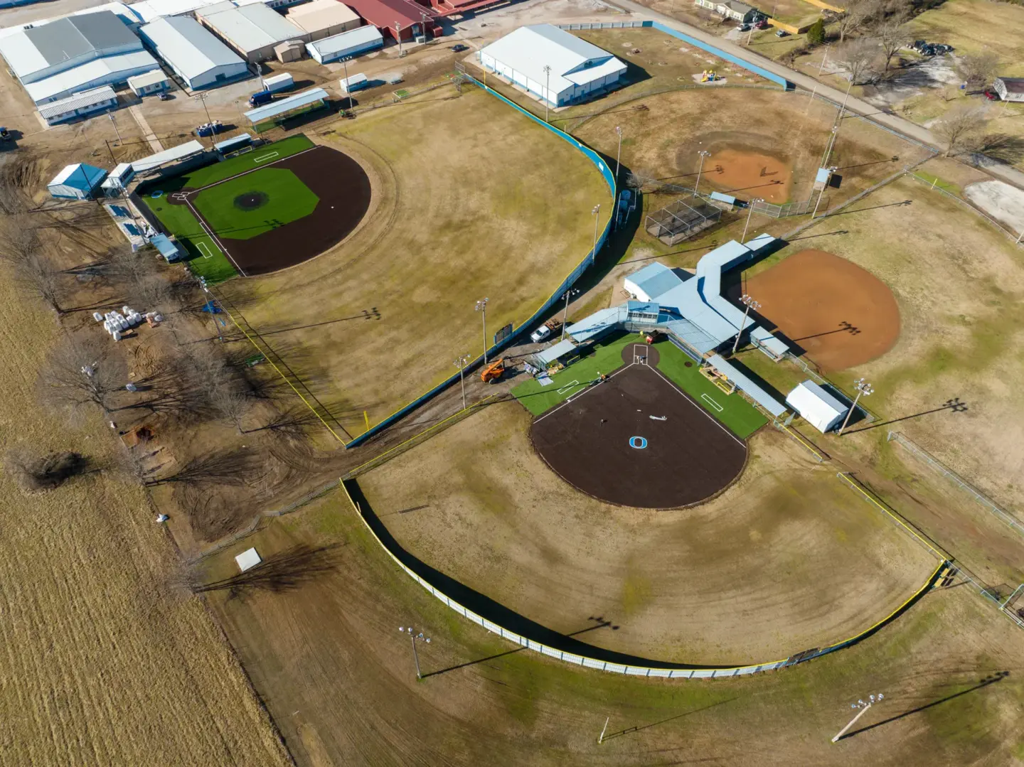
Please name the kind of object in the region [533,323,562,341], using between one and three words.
vehicle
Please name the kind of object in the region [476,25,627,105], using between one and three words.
building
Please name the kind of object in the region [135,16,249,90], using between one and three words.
building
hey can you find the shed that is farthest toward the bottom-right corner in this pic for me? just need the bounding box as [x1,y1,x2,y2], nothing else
[786,378,850,433]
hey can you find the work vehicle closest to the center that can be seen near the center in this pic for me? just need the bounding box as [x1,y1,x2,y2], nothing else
[479,356,515,384]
